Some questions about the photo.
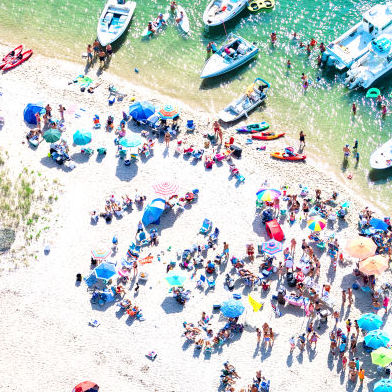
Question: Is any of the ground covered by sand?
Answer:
Yes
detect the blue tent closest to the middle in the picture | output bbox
[140,205,173,233]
